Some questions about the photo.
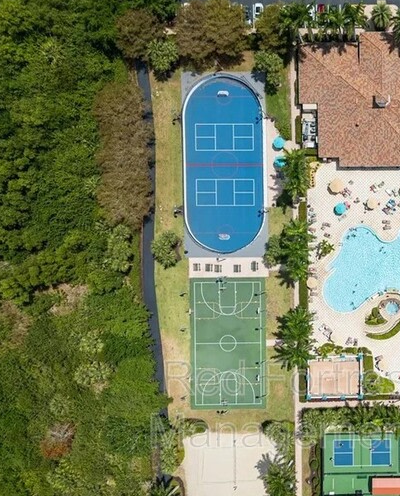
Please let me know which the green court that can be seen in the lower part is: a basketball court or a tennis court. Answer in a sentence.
The green court that can be seen in the lower part is a basketball court.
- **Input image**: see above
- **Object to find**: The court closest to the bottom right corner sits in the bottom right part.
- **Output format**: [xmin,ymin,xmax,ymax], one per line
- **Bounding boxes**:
[334,437,392,469]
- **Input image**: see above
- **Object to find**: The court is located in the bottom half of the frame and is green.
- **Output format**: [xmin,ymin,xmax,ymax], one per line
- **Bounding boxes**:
[190,277,266,409]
